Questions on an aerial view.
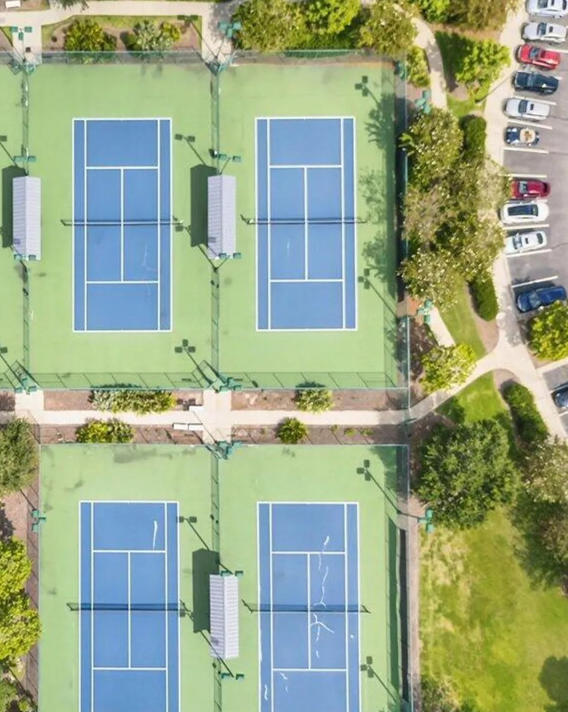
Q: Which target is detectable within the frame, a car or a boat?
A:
car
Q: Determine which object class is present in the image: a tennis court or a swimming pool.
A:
tennis court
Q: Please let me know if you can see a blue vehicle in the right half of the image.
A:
Yes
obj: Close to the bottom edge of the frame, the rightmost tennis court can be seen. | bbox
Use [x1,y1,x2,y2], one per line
[216,447,400,712]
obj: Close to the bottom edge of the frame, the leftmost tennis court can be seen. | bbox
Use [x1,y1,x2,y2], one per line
[39,447,217,712]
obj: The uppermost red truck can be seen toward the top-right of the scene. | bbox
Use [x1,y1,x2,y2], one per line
[515,45,562,70]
